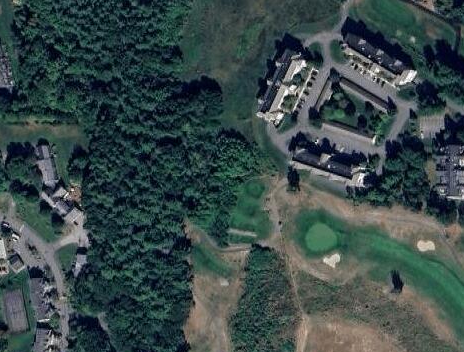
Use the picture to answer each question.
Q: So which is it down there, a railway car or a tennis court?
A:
tennis court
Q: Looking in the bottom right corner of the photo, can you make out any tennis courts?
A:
No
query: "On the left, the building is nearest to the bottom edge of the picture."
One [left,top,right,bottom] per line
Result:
[31,325,57,352]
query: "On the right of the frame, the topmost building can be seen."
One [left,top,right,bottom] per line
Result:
[340,30,417,87]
